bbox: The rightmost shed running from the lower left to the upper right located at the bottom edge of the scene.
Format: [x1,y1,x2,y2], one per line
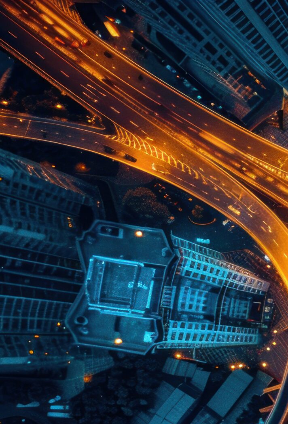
[205,366,260,419]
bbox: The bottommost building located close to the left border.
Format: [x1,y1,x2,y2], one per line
[0,155,98,380]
